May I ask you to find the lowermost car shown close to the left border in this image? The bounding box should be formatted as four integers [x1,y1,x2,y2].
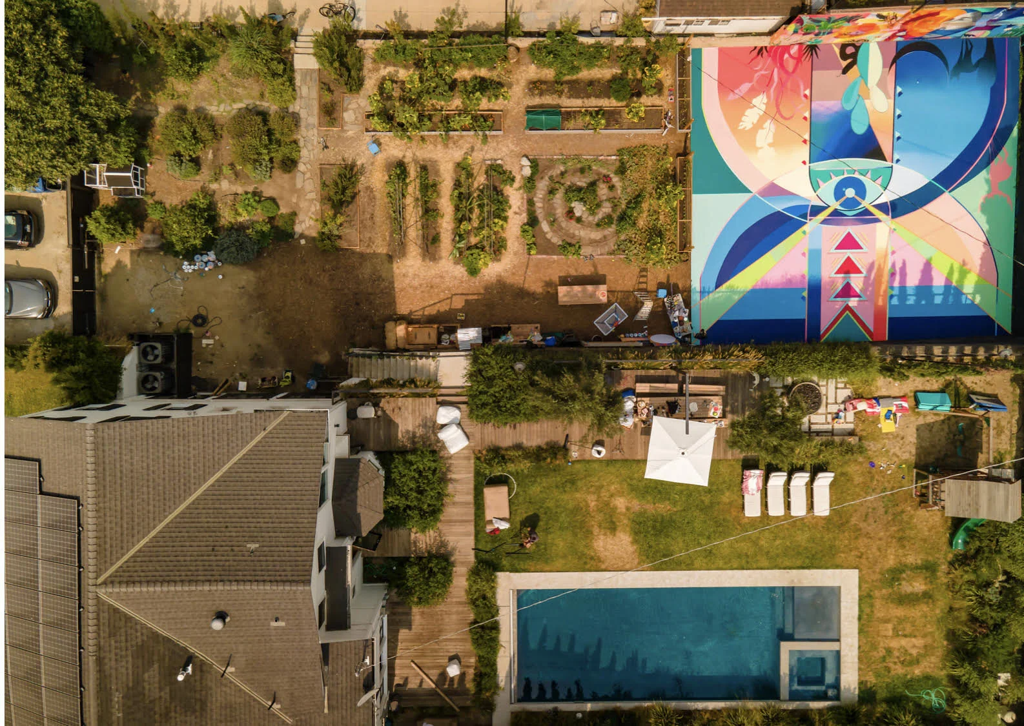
[0,274,61,322]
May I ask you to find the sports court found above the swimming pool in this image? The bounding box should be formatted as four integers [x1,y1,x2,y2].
[690,40,1021,347]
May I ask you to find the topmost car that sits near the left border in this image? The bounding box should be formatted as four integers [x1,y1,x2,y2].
[0,206,41,253]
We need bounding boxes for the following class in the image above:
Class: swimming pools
[497,571,859,710]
